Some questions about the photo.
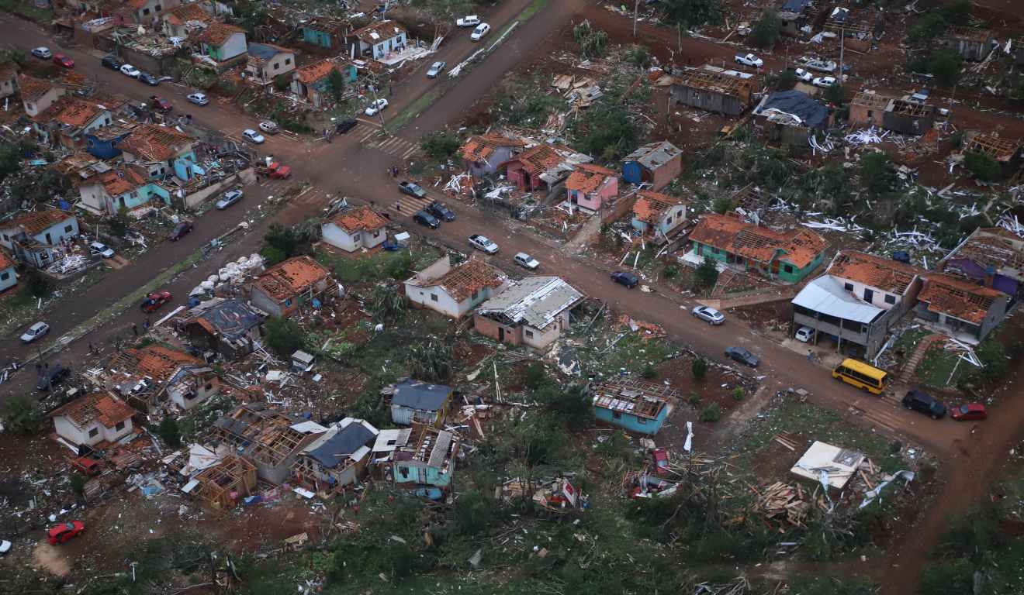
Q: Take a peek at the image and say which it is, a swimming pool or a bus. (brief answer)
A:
bus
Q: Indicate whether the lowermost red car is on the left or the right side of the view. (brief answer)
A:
left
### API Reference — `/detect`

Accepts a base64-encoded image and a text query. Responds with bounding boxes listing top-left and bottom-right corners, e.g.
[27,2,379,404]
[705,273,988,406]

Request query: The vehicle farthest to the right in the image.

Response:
[951,403,986,419]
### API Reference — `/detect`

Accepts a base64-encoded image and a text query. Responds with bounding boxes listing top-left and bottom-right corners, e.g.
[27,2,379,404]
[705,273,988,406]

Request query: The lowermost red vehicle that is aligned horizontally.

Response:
[46,523,84,544]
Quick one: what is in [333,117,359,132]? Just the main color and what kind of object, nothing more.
black vehicle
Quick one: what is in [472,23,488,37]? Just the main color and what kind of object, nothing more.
white car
